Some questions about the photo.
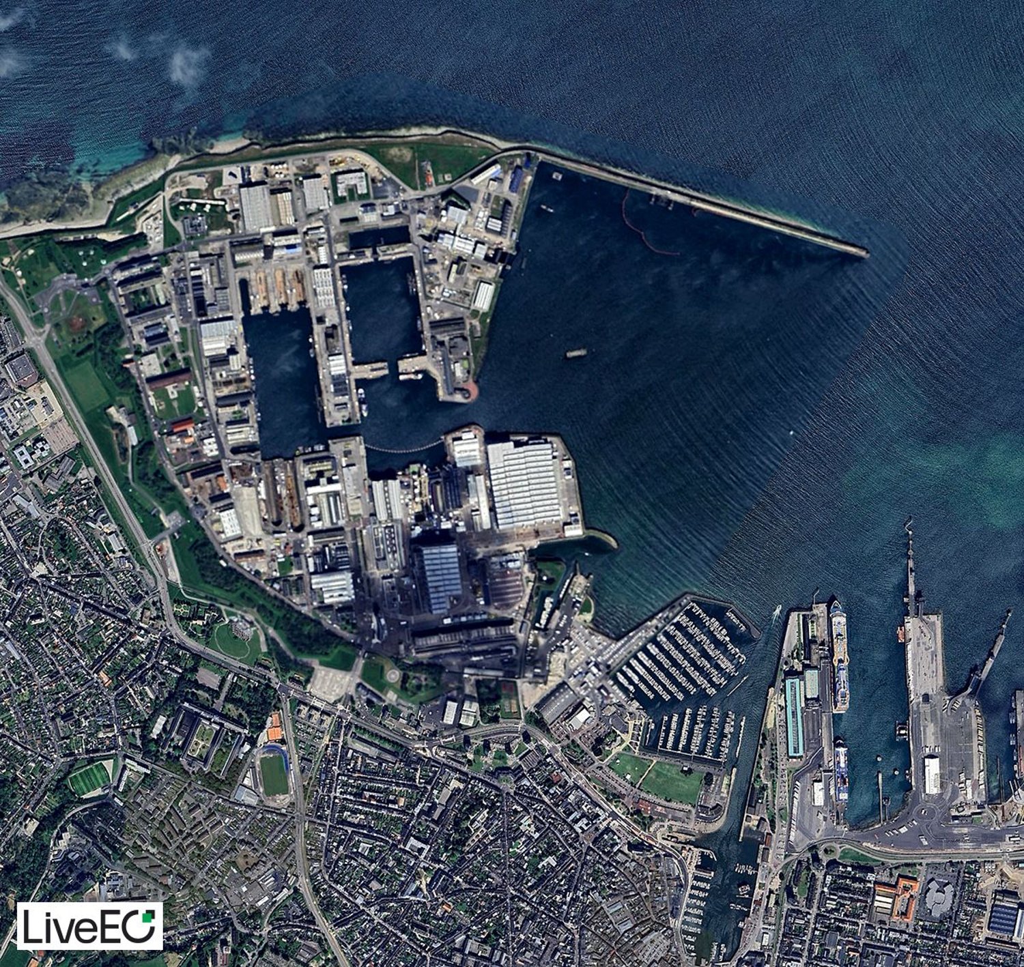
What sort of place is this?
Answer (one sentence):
This image shows a port.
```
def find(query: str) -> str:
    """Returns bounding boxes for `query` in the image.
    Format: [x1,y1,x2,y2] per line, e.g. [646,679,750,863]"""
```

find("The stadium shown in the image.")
[251,743,297,807]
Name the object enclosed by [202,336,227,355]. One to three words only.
building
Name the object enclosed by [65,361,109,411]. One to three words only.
sports field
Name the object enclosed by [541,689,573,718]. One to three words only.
building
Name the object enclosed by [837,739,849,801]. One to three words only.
ship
